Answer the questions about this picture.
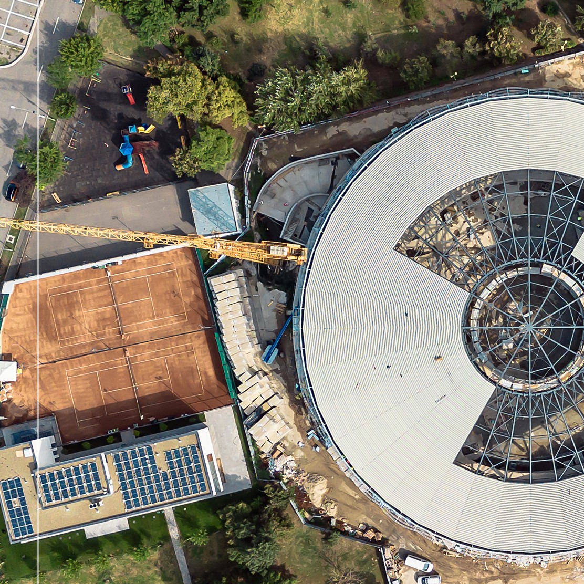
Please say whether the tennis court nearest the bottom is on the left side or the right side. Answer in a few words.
left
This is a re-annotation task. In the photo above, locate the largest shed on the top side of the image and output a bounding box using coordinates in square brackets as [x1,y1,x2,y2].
[188,183,243,237]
